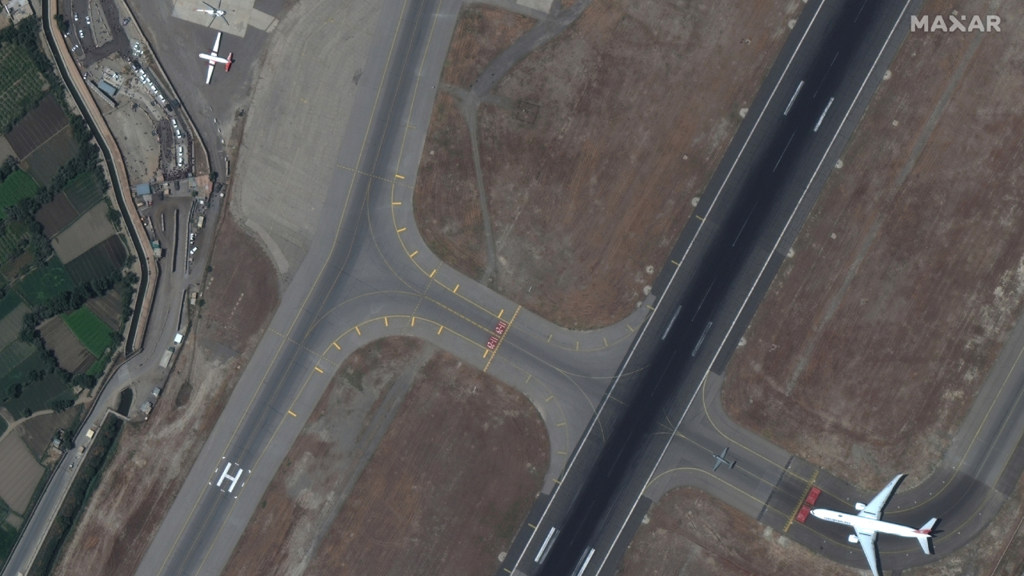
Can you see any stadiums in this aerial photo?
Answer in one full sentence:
No, I can see no stadium in this picture.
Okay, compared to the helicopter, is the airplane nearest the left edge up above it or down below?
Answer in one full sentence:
It's below the helicopter that the airplane nearest the left edge shows up.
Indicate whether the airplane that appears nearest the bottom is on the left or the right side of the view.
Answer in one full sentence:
The airplane that appears nearest the bottom sits on the right side.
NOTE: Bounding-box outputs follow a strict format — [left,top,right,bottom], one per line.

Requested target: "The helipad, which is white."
[209,457,251,499]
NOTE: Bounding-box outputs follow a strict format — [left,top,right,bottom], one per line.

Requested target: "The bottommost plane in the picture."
[810,475,938,576]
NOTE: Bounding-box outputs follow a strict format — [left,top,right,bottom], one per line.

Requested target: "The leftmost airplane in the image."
[199,34,232,82]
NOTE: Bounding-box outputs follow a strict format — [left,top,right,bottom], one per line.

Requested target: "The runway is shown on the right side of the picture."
[504,0,911,576]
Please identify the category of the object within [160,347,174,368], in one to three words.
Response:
vehicle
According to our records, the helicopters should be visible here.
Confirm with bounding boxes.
[194,0,234,28]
